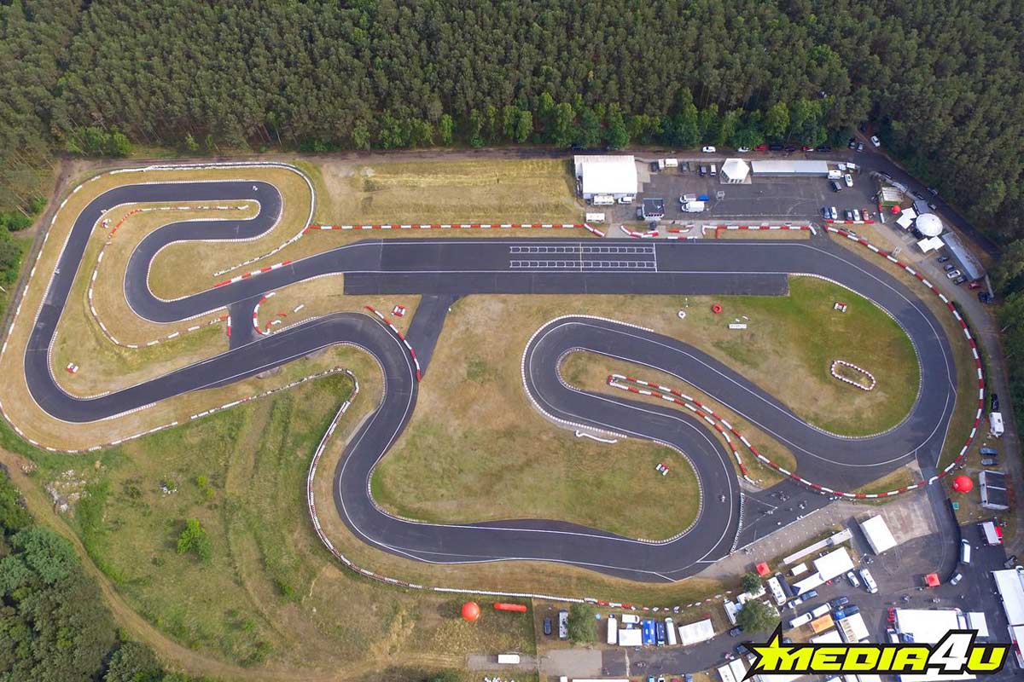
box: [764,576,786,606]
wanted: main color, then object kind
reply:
white camper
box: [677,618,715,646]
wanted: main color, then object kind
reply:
white tent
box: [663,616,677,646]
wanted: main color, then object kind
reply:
white vehicle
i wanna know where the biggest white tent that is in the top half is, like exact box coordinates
[910,214,941,242]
